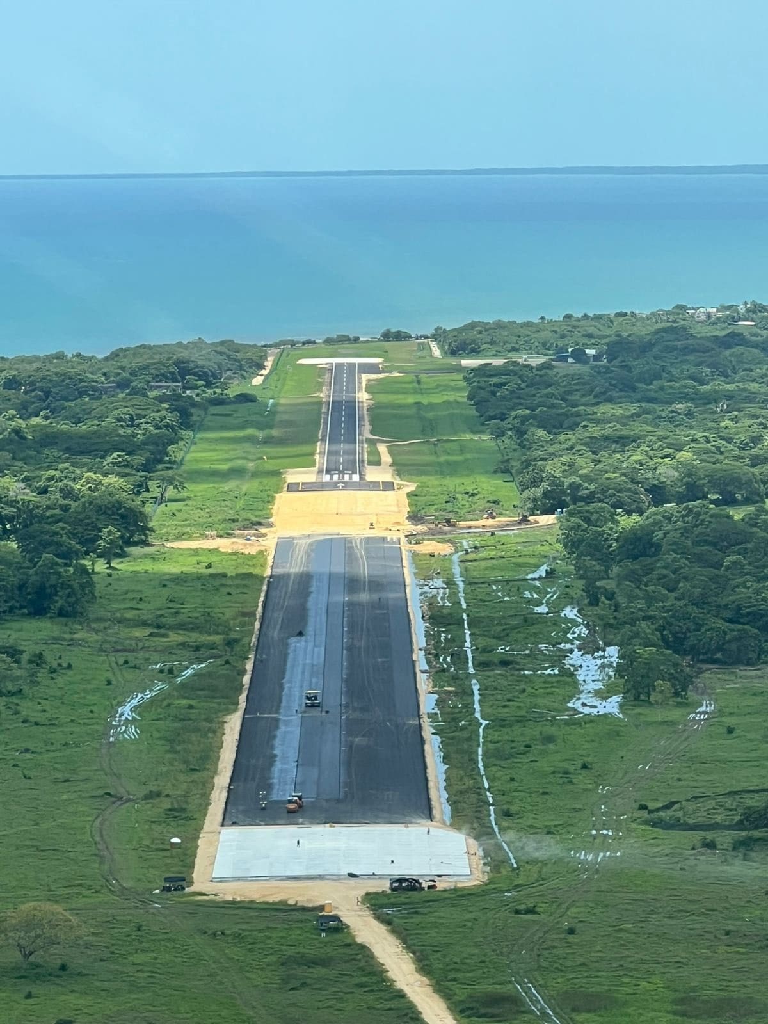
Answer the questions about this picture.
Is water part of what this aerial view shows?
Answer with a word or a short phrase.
Yes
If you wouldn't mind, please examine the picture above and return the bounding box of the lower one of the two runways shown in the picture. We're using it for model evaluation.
[228,538,439,825]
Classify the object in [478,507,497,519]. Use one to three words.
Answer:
vehicle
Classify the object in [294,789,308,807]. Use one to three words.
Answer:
work vehicle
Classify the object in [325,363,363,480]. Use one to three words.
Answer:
runway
